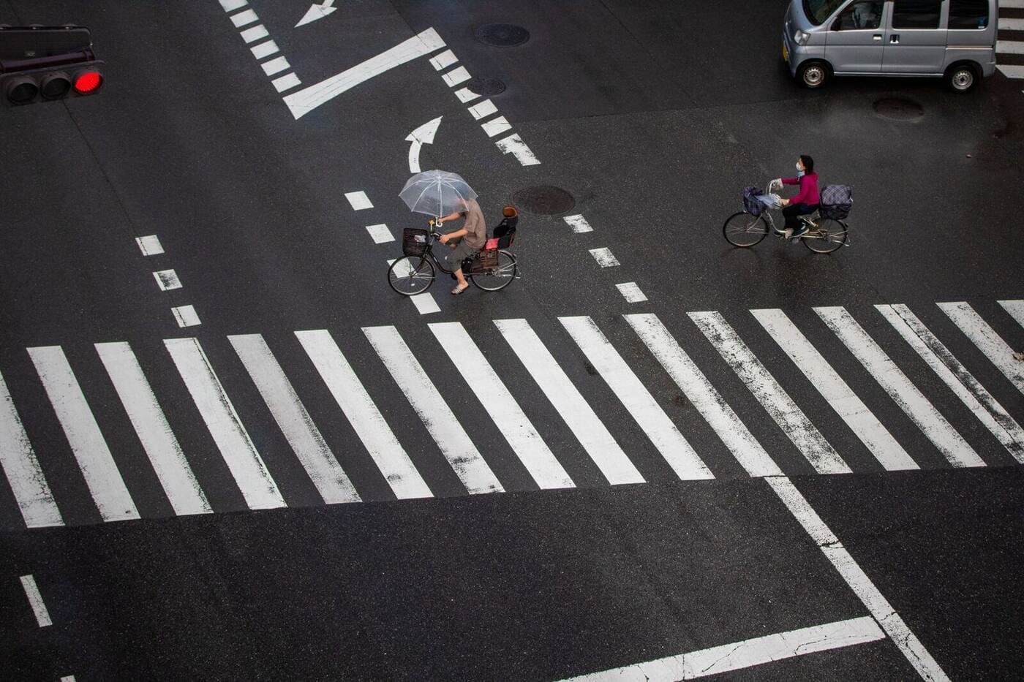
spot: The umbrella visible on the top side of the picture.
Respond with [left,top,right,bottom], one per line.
[402,169,481,225]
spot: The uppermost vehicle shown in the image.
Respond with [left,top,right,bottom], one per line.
[780,0,998,95]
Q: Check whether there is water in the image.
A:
No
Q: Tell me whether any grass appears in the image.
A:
No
